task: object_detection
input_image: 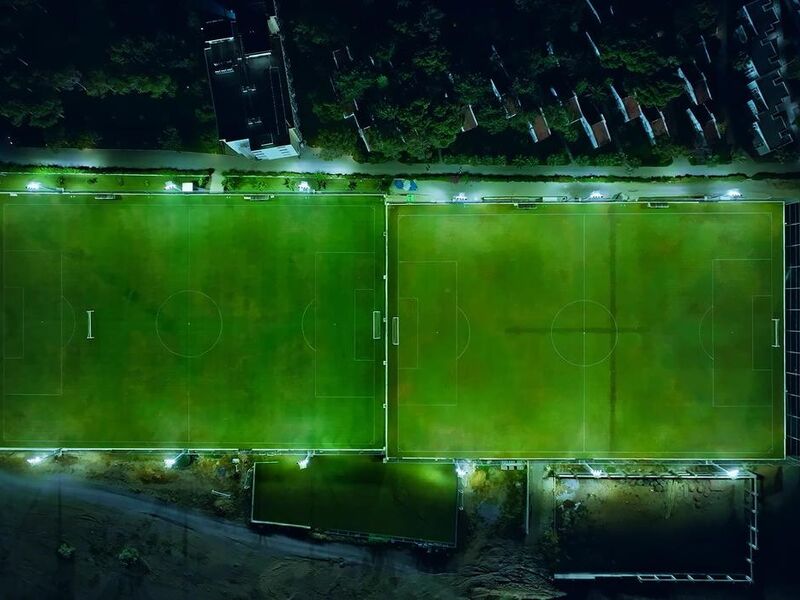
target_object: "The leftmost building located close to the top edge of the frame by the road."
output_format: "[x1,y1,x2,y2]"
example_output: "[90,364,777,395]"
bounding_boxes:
[203,5,300,162]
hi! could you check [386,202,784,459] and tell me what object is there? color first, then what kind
green soccer field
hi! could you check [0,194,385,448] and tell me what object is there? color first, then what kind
green soccer field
